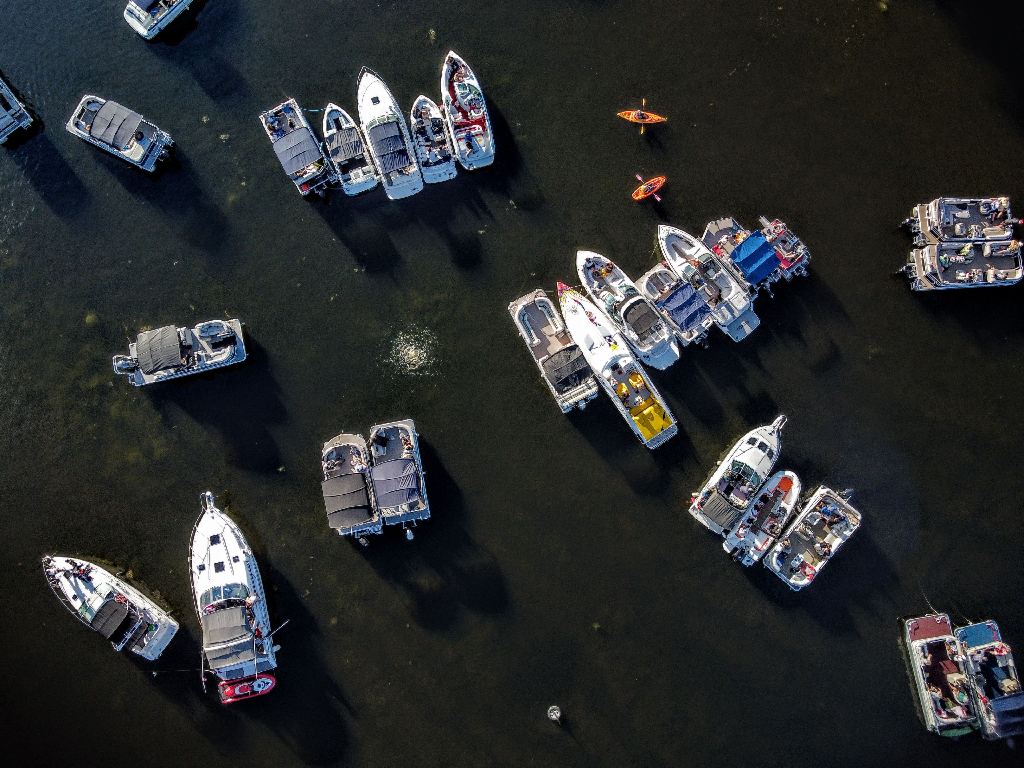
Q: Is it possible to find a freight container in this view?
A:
No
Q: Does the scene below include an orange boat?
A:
Yes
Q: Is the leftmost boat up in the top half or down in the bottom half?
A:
top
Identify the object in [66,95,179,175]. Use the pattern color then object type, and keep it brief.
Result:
gray boat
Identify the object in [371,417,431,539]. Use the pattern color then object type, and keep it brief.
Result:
gray boat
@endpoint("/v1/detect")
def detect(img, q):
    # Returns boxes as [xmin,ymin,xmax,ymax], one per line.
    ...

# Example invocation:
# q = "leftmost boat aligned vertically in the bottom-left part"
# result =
[188,491,290,693]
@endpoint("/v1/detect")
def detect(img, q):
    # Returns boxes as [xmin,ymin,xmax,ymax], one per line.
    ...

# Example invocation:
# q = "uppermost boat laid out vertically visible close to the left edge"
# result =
[0,70,38,157]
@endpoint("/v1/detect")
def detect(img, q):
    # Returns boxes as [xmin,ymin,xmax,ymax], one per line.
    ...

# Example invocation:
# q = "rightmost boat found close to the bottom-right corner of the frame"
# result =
[952,613,1024,751]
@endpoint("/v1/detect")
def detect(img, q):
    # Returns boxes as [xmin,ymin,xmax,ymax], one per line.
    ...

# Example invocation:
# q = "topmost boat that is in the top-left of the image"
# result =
[123,0,200,41]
